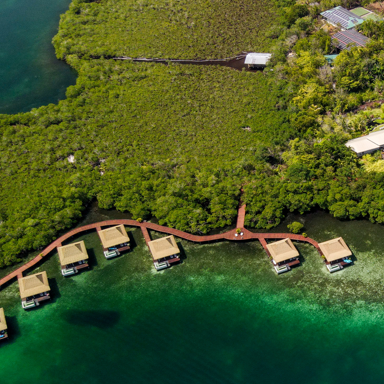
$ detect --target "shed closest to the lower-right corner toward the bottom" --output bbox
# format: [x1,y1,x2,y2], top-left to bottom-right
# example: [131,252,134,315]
[318,238,354,270]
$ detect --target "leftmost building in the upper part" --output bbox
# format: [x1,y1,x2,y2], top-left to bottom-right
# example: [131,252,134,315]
[244,53,272,70]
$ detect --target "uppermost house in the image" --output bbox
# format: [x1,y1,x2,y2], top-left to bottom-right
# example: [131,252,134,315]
[320,6,364,31]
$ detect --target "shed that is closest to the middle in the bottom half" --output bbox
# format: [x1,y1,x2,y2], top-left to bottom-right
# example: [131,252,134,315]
[148,236,183,267]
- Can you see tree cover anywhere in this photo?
Yes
